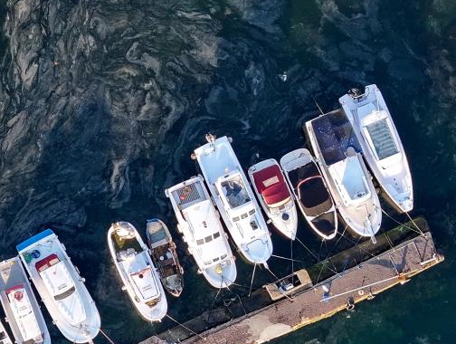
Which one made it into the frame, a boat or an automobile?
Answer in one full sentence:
Of the two, only a boat appears.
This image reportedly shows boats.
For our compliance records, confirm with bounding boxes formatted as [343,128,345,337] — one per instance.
[163,177,238,287]
[303,100,387,236]
[110,221,166,321]
[279,148,335,239]
[16,227,98,344]
[339,85,413,212]
[0,255,49,344]
[144,217,183,295]
[247,157,299,242]
[189,136,273,263]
